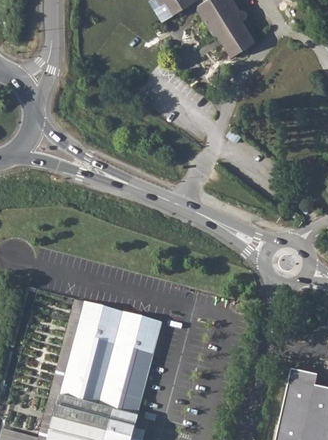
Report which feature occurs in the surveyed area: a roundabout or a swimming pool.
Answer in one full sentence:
Of the two, only a roundabout appears.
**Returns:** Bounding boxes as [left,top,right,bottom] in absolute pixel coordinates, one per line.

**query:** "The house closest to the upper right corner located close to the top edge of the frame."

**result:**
[196,0,256,56]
